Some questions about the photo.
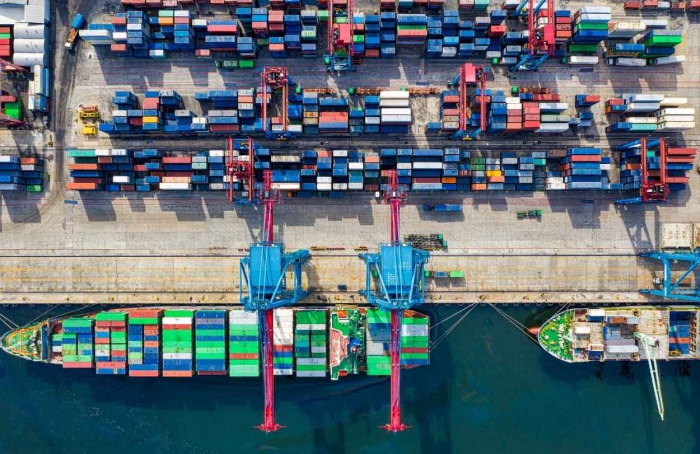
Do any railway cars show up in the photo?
No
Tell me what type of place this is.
port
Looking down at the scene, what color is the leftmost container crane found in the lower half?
blue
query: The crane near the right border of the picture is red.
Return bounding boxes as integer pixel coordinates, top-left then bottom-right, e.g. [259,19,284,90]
[611,137,669,206]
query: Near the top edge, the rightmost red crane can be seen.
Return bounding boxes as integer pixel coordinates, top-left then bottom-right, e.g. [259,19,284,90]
[508,0,555,72]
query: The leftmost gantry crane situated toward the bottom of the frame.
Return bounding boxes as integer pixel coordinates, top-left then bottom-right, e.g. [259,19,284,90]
[239,171,311,436]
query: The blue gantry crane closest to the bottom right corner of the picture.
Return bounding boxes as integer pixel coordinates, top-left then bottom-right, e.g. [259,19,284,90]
[640,253,700,307]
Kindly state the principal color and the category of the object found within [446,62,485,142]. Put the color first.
red crane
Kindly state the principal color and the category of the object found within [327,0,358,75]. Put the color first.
red crane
